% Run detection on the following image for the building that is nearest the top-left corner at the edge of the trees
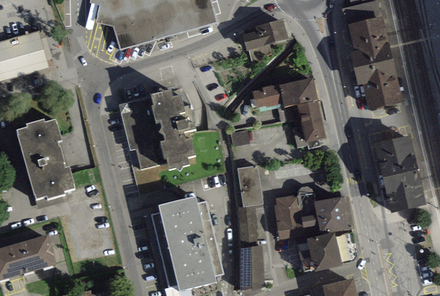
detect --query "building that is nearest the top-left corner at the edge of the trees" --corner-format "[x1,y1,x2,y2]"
[0,32,48,80]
